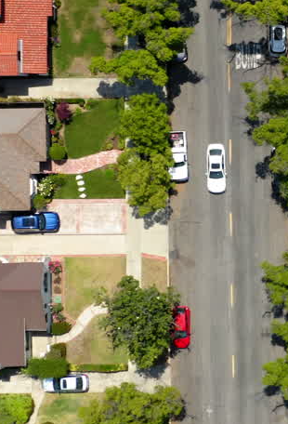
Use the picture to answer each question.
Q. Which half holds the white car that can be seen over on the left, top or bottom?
bottom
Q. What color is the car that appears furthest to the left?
blue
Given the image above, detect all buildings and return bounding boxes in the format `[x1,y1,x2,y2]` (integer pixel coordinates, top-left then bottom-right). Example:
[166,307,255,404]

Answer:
[0,109,48,214]
[0,0,53,77]
[0,263,48,369]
